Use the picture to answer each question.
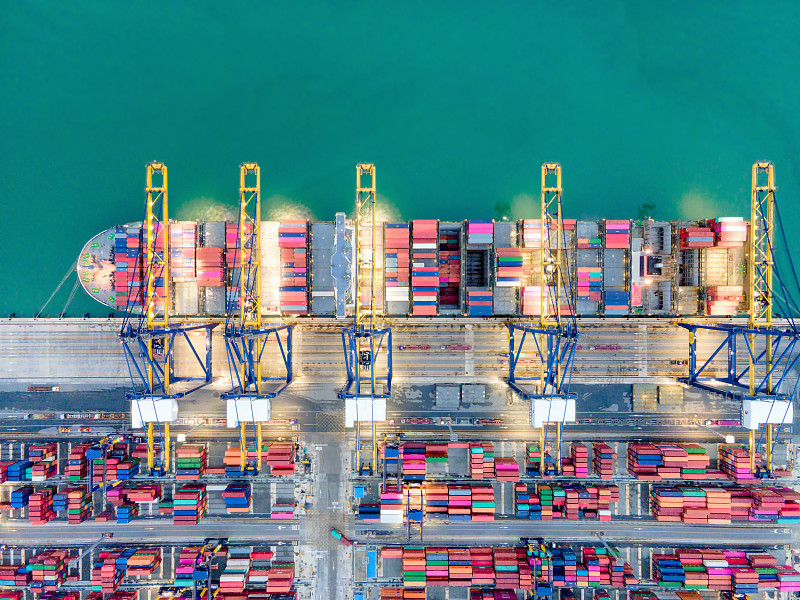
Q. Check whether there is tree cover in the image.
No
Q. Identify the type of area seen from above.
port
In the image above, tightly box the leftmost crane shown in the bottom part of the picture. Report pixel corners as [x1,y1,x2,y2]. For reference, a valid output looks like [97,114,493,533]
[92,433,135,493]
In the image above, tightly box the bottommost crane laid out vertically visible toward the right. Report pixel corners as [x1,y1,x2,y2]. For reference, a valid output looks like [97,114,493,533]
[520,538,550,600]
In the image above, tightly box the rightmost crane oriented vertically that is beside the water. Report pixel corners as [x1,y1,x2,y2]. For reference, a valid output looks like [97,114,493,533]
[674,162,800,477]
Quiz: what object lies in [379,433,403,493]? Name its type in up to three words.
crane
